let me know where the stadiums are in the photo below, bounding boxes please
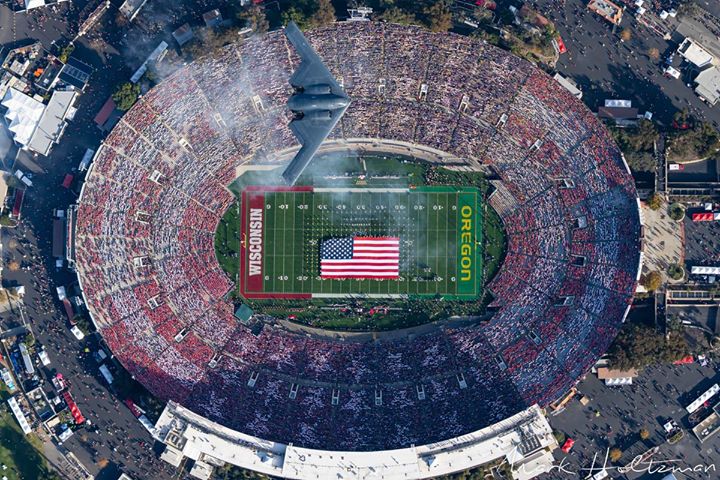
[73,19,646,448]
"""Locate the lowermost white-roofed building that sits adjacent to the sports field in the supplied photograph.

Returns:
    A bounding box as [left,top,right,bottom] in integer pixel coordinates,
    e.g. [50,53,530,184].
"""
[156,399,559,480]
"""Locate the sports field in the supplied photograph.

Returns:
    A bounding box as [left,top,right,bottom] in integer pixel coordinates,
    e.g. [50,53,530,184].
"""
[241,187,482,298]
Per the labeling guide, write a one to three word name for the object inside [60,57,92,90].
building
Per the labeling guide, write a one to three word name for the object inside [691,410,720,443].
building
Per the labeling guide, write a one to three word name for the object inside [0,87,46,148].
tent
